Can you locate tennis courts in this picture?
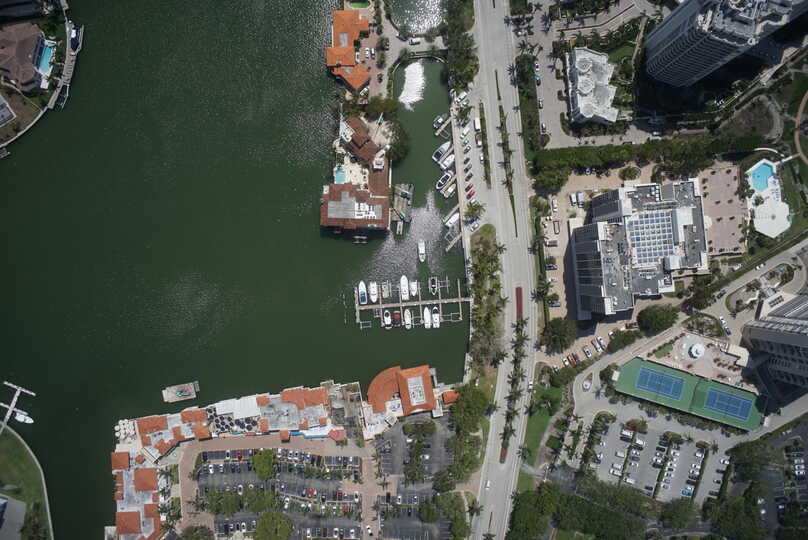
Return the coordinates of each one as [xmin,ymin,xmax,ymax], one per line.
[615,357,701,413]
[693,377,767,432]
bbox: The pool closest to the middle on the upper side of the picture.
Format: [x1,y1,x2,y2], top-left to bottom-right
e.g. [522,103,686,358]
[334,166,346,184]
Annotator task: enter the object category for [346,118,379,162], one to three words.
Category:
house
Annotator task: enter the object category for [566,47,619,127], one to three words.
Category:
building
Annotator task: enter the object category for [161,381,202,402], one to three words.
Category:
ship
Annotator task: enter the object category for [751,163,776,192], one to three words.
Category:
swimming pool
